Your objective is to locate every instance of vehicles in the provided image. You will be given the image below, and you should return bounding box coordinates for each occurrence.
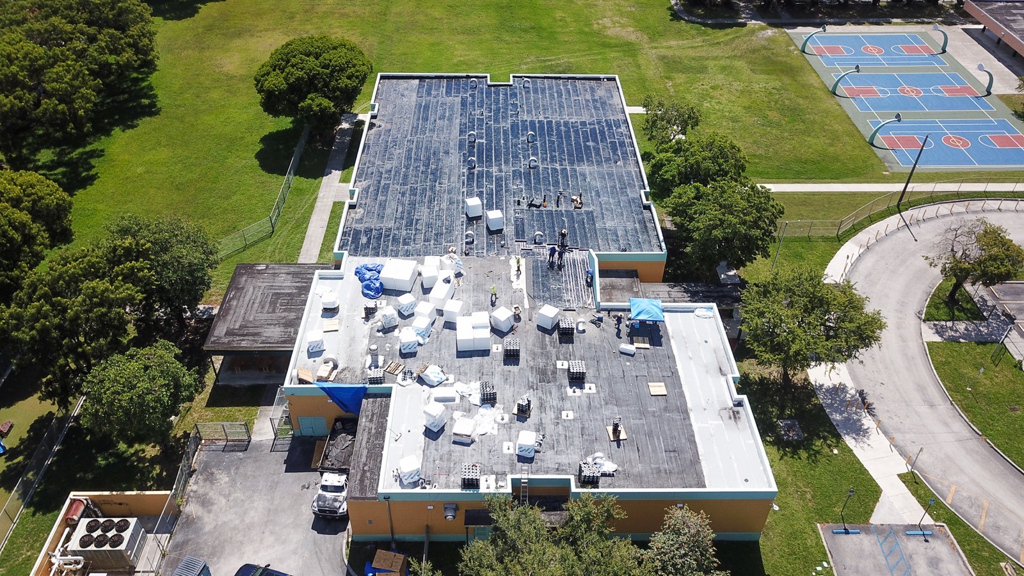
[234,564,290,576]
[313,416,352,522]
